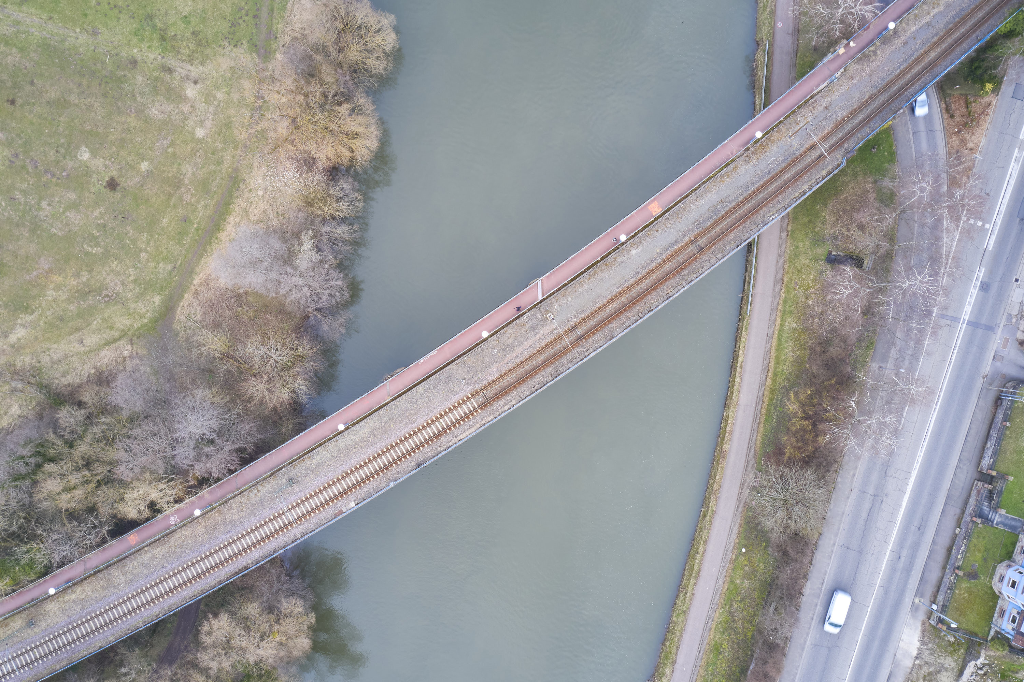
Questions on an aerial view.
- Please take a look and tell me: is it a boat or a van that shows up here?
van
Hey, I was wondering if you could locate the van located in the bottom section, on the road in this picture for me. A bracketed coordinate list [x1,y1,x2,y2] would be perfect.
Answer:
[822,592,851,632]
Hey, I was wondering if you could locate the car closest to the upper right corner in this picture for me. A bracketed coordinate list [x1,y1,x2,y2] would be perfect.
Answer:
[913,92,933,116]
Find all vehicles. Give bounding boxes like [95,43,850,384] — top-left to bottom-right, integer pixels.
[913,92,933,116]
[822,592,851,632]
